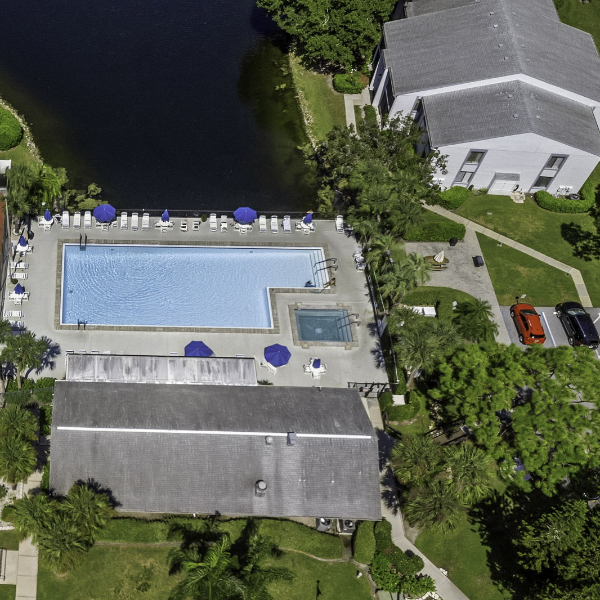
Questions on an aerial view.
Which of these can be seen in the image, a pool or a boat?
pool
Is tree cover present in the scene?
Yes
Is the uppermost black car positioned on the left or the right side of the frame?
right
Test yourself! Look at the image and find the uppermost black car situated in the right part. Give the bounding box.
[558,305,600,350]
